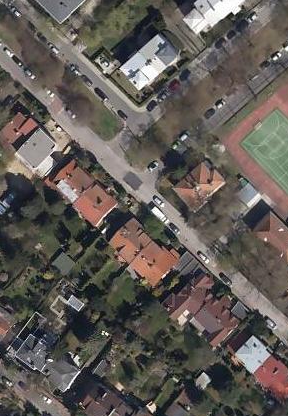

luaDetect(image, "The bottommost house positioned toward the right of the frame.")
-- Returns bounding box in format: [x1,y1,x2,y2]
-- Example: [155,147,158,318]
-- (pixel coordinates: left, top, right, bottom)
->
[165,392,190,416]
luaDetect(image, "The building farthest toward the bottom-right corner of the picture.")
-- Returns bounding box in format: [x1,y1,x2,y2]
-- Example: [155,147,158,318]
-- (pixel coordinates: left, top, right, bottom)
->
[252,355,288,399]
